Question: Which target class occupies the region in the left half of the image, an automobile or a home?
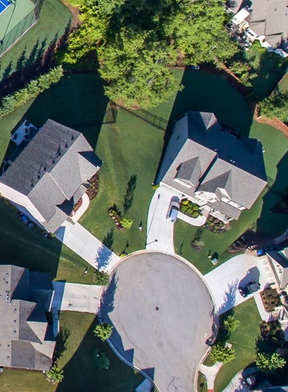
home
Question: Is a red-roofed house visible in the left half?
No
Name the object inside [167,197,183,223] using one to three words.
car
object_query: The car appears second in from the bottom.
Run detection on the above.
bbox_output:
[241,280,264,299]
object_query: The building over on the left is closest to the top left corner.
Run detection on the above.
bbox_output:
[0,118,97,239]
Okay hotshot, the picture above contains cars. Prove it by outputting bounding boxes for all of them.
[239,369,269,392]
[241,280,264,299]
[167,197,183,223]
